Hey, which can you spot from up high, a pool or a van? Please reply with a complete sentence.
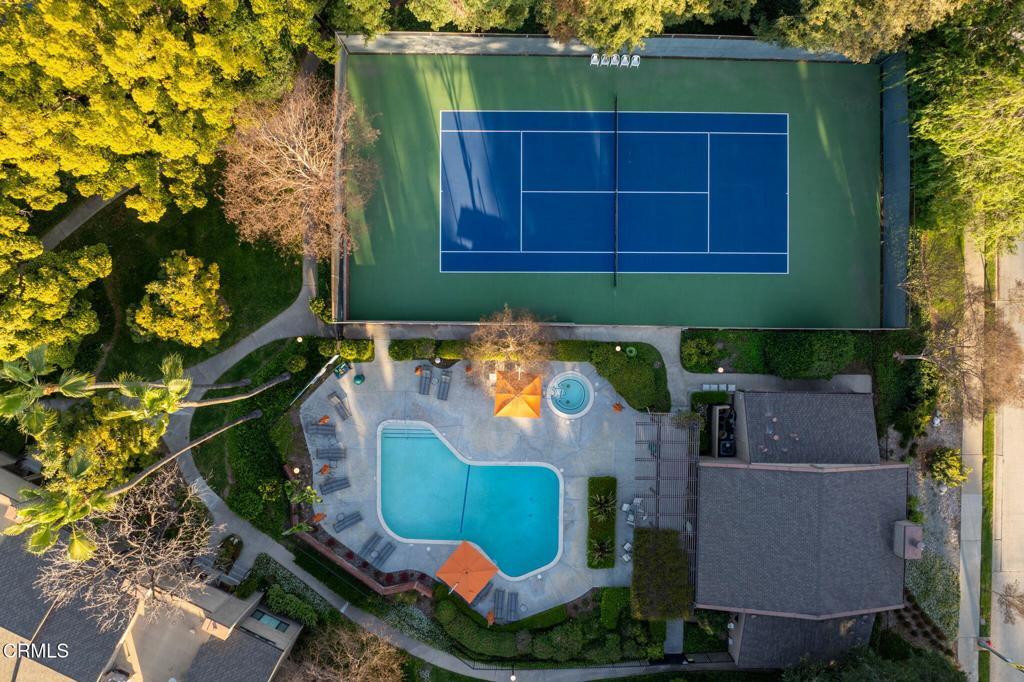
There is a pool in the scene.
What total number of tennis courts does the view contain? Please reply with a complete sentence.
The picture shows just 1 tennis court.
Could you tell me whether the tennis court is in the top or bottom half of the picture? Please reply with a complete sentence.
Seen from above, the tennis court lies in the top half of the view.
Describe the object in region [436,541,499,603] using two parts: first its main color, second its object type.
orange umbrella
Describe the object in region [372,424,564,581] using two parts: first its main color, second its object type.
blue swimming pool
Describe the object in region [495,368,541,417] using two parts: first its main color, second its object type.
orange umbrella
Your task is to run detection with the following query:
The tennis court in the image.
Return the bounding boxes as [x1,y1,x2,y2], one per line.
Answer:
[347,55,881,328]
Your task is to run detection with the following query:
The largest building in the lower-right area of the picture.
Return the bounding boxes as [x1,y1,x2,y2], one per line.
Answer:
[694,390,928,664]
